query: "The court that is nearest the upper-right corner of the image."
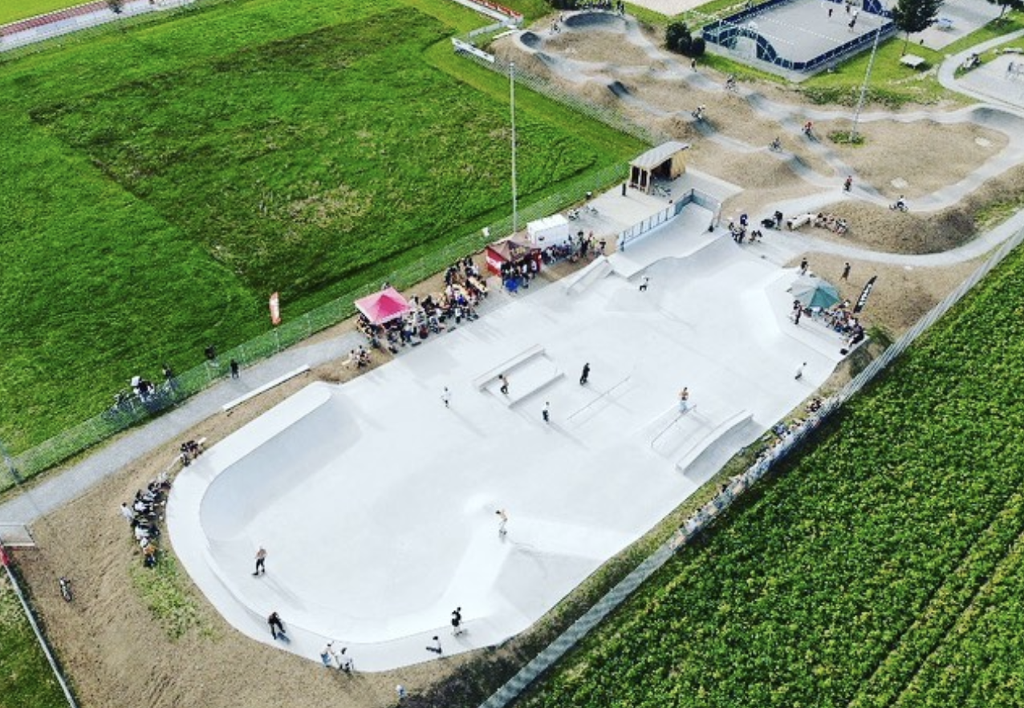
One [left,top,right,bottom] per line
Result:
[704,0,895,70]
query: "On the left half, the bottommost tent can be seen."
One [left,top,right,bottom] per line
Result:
[347,276,415,322]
